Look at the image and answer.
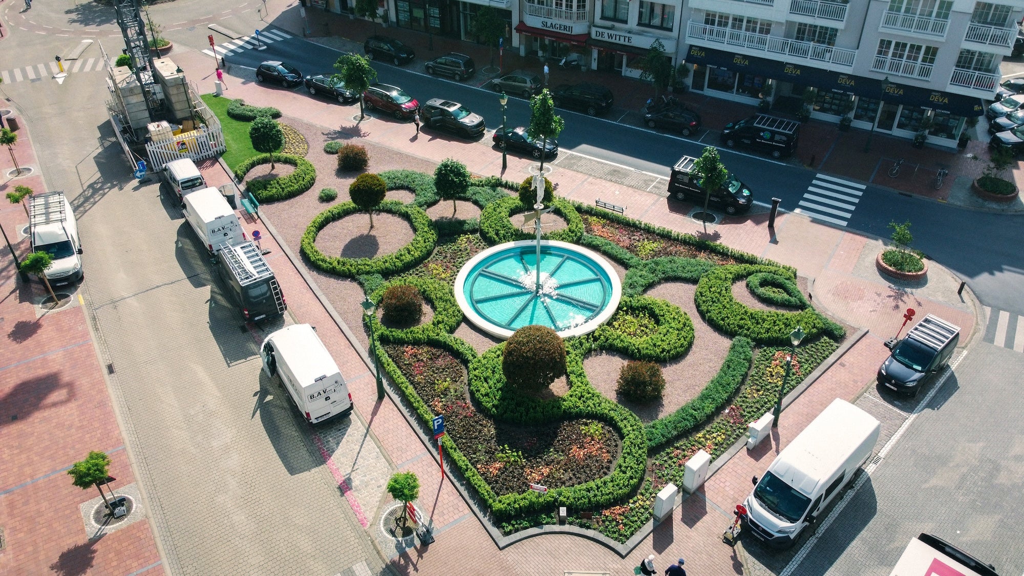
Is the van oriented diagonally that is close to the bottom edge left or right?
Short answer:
right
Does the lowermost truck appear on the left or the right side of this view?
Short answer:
right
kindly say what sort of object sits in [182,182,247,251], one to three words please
van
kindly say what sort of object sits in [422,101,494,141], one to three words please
car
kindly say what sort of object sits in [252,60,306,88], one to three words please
car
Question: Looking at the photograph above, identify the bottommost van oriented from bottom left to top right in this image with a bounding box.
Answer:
[742,402,873,554]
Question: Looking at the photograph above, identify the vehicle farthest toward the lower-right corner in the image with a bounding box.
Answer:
[881,530,993,576]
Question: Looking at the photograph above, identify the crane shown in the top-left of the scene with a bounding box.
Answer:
[108,0,200,128]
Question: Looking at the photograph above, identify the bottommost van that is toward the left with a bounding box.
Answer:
[258,328,353,427]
